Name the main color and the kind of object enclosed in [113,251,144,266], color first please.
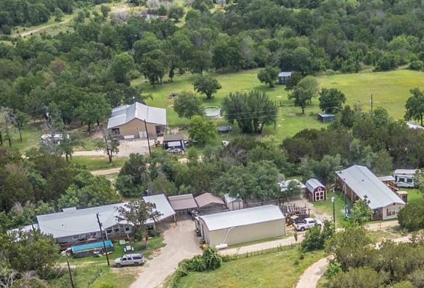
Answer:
gray car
